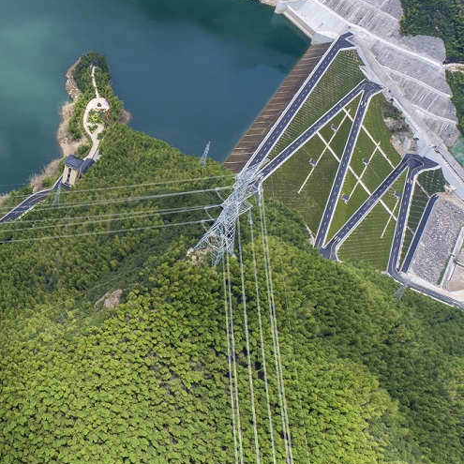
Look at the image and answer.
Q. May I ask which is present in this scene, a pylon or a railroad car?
pylon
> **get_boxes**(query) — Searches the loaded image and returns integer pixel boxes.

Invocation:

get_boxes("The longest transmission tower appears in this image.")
[194,165,259,265]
